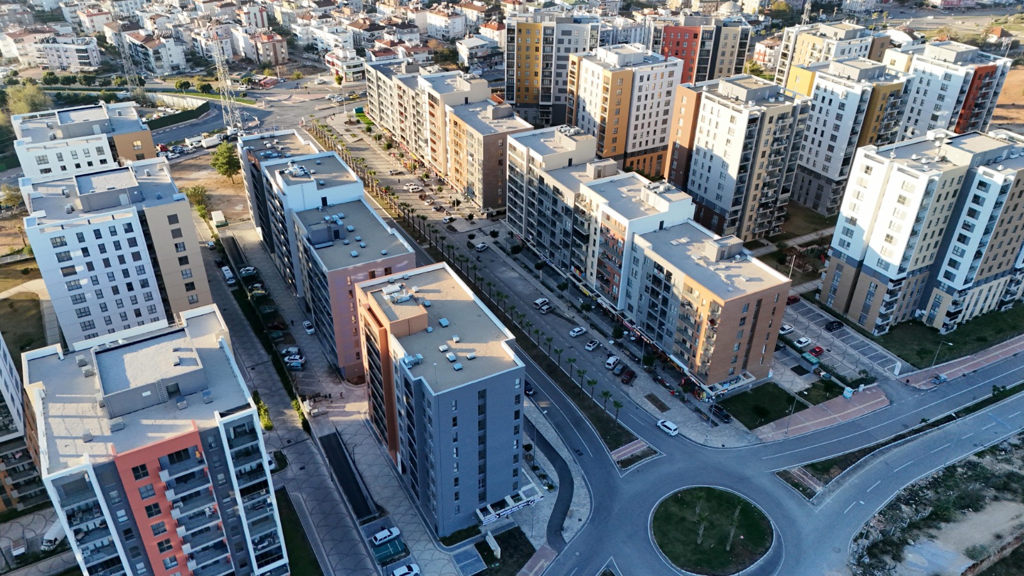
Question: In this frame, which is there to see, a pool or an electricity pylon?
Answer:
electricity pylon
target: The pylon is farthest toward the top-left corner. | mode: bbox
[110,19,144,96]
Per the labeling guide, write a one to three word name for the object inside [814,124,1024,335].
building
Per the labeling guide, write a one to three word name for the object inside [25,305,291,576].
building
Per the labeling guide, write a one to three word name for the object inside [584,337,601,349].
vehicle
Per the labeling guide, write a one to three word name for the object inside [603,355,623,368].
vehicle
